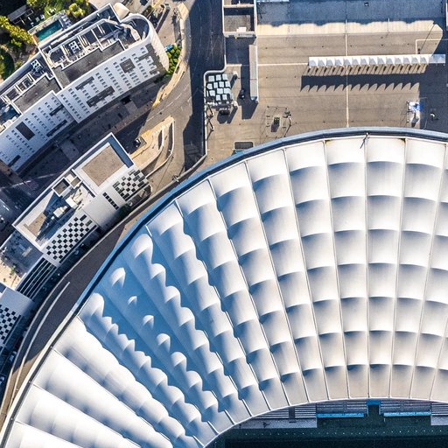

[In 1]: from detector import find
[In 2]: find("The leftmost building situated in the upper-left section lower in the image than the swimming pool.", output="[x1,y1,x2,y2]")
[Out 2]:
[0,49,76,170]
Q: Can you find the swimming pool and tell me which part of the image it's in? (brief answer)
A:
top left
